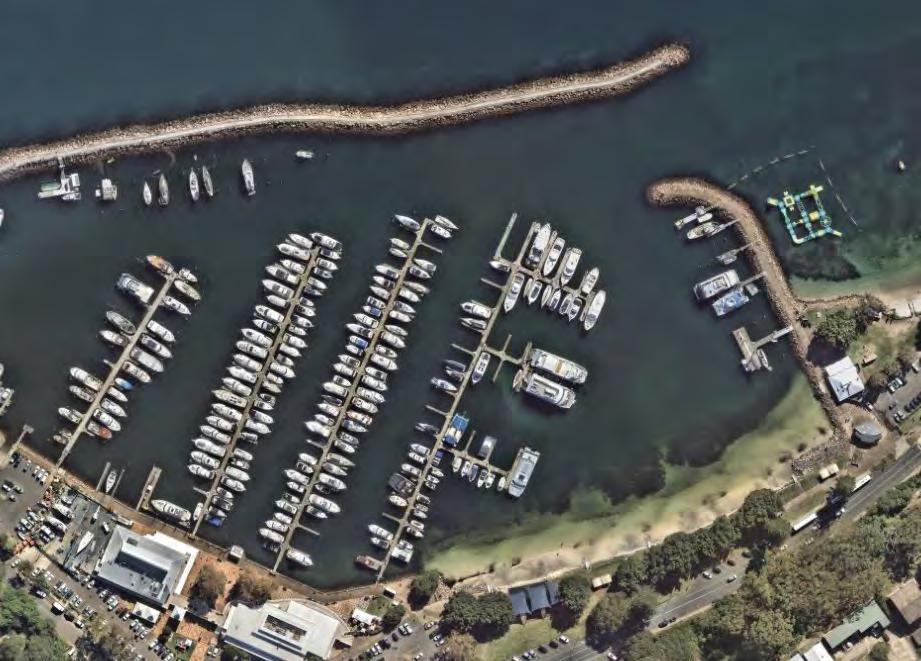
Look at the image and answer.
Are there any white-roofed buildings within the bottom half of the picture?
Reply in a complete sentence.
Yes, looking within the bottom half of the picture, one can make out a white-roofed building.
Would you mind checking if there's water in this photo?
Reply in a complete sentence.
Yes, there's water in this view.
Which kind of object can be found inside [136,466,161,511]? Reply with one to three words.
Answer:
pier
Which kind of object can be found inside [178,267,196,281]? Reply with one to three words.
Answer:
boat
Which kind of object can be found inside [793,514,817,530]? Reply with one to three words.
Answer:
vehicle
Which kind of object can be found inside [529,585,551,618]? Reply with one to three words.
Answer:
building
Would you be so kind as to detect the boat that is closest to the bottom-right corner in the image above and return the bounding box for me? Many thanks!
[760,350,773,372]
